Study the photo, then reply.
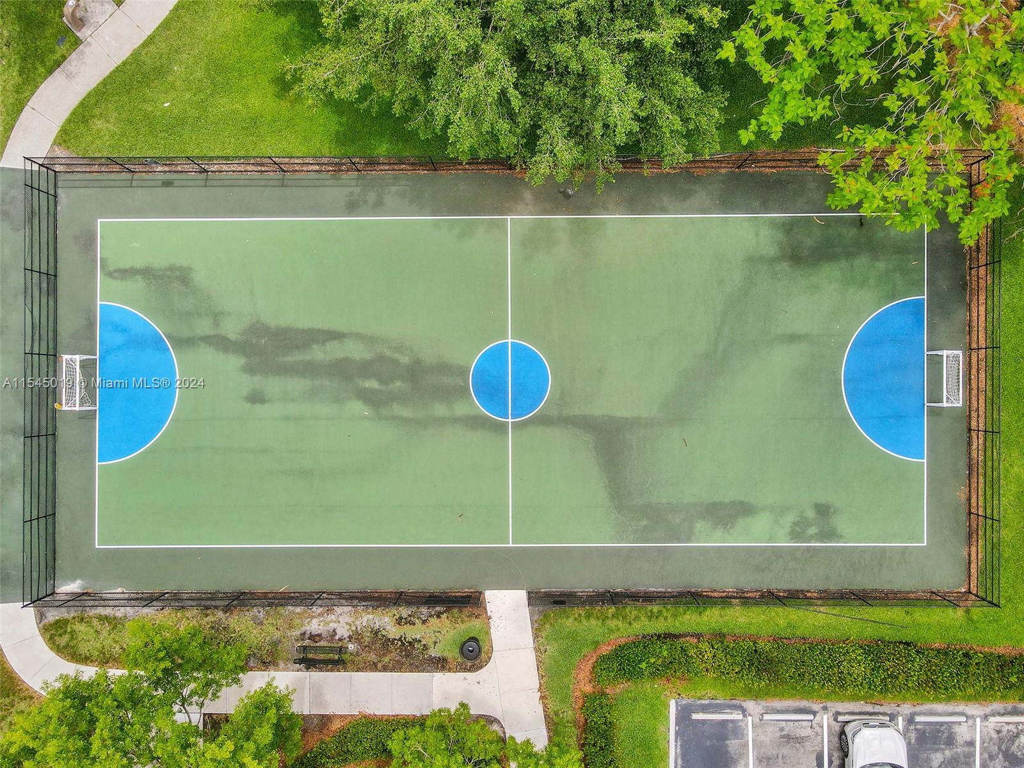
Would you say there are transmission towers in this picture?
No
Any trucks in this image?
No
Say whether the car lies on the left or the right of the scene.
right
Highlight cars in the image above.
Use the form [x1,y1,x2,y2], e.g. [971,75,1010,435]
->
[842,716,905,768]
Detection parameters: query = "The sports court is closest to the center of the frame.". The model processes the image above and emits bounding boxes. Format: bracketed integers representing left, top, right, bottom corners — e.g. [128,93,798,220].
[55,168,967,592]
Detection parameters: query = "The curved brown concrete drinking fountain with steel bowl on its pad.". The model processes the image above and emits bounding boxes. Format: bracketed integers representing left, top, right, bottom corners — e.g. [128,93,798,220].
[58,0,86,31]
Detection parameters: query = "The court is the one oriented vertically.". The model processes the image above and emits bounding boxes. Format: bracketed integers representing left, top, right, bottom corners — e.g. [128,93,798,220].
[0,166,55,604]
